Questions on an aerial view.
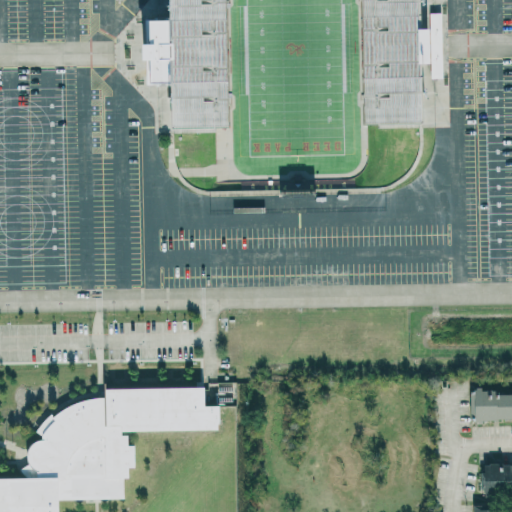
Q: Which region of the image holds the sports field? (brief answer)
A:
top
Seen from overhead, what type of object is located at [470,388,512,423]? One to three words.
building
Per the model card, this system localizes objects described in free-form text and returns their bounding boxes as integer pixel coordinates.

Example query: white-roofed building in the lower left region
[0,384,221,512]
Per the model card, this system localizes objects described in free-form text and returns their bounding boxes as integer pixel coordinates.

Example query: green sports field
[230,0,362,175]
